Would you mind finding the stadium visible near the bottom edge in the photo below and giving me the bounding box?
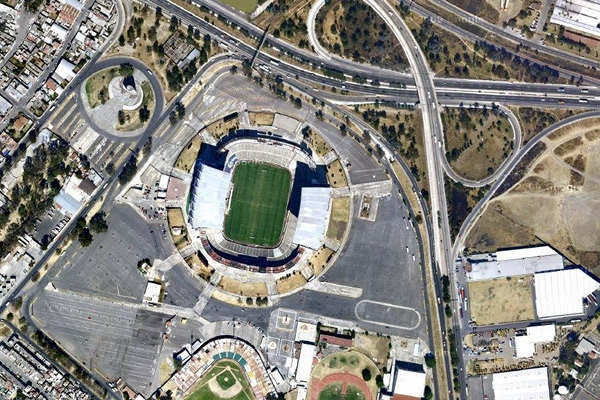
[148,336,279,400]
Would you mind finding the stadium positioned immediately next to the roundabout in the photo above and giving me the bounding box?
[163,109,353,309]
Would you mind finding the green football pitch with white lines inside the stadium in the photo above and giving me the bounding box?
[223,158,294,251]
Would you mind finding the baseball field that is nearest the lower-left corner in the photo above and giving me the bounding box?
[183,360,257,400]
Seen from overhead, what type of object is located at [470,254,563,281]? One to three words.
building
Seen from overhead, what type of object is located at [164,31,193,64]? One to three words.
building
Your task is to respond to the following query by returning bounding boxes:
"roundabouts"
[77,54,165,141]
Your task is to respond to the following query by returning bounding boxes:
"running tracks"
[309,347,384,400]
